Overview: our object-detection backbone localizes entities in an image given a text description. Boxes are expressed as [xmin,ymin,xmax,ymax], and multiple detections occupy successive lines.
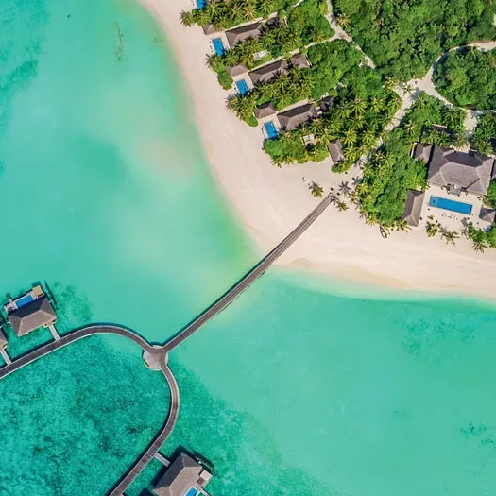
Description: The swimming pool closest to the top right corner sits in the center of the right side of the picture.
[427,195,473,216]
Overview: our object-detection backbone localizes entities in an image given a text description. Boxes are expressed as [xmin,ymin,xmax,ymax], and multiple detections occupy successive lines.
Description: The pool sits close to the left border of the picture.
[14,296,35,311]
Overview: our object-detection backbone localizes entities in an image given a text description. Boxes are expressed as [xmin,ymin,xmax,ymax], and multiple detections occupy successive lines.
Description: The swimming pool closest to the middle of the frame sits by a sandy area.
[264,121,278,140]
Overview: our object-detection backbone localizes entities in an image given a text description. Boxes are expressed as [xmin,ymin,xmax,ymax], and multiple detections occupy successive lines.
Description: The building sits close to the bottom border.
[152,452,210,496]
